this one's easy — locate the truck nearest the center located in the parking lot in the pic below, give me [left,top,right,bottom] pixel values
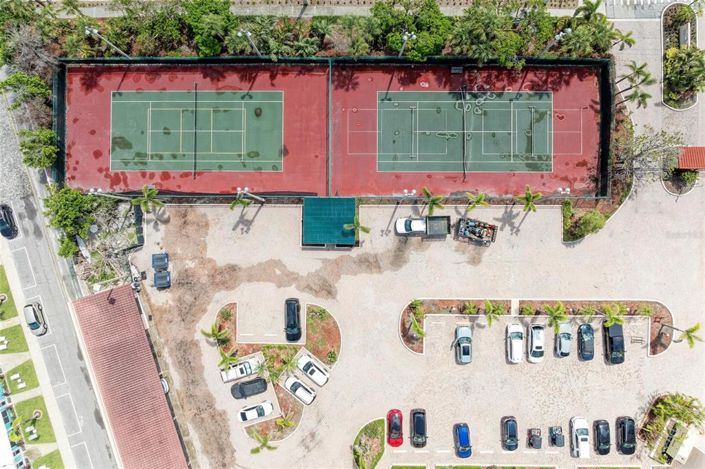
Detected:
[394,216,451,238]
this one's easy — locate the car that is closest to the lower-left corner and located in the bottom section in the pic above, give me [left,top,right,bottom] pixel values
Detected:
[23,300,49,338]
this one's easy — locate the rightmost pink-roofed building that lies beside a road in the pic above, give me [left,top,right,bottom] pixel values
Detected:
[71,282,193,469]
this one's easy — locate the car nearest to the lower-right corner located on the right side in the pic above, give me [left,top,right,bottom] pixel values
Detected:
[615,415,637,456]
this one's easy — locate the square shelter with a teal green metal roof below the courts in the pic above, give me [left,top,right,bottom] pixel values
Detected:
[302,197,356,246]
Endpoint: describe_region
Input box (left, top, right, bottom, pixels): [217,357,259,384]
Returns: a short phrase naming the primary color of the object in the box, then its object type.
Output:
white truck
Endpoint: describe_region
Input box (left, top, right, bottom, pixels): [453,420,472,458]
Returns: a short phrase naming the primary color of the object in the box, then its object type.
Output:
blue car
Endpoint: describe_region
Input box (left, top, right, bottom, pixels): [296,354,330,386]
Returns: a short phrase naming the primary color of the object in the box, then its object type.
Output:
white car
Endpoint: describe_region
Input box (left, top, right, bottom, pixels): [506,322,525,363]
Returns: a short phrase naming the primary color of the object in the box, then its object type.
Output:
white car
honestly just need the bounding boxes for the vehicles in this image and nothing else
[453,420,472,458]
[450,324,472,364]
[592,418,612,455]
[529,424,543,451]
[569,415,590,459]
[230,376,269,399]
[527,322,547,363]
[237,399,276,422]
[394,216,451,238]
[550,422,565,449]
[283,373,317,406]
[554,322,573,360]
[386,408,404,447]
[501,415,519,450]
[615,415,637,456]
[506,322,525,363]
[23,300,49,338]
[0,203,18,241]
[283,298,302,342]
[217,357,259,384]
[603,317,625,364]
[296,354,330,386]
[410,408,428,448]
[576,322,595,360]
